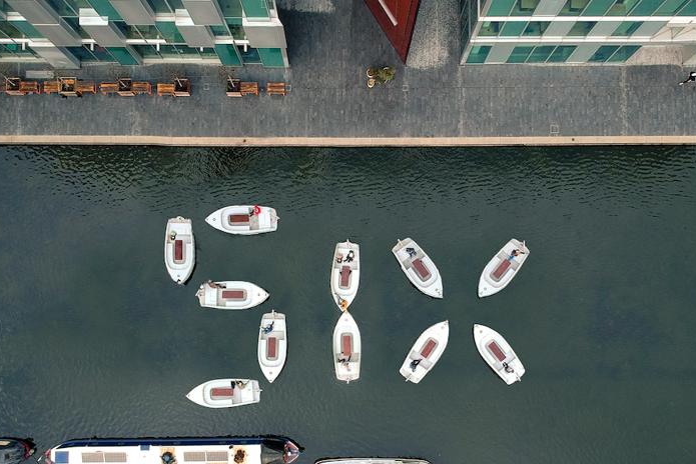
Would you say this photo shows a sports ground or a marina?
marina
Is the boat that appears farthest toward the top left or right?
left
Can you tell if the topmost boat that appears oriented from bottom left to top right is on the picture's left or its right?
right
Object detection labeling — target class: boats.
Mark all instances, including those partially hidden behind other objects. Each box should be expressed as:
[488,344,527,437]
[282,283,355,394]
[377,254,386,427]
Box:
[392,238,444,299]
[401,320,449,383]
[258,310,287,383]
[206,205,280,234]
[331,241,361,312]
[47,435,311,464]
[198,280,269,309]
[477,238,529,298]
[333,311,362,383]
[474,323,525,385]
[166,214,195,285]
[189,379,263,409]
